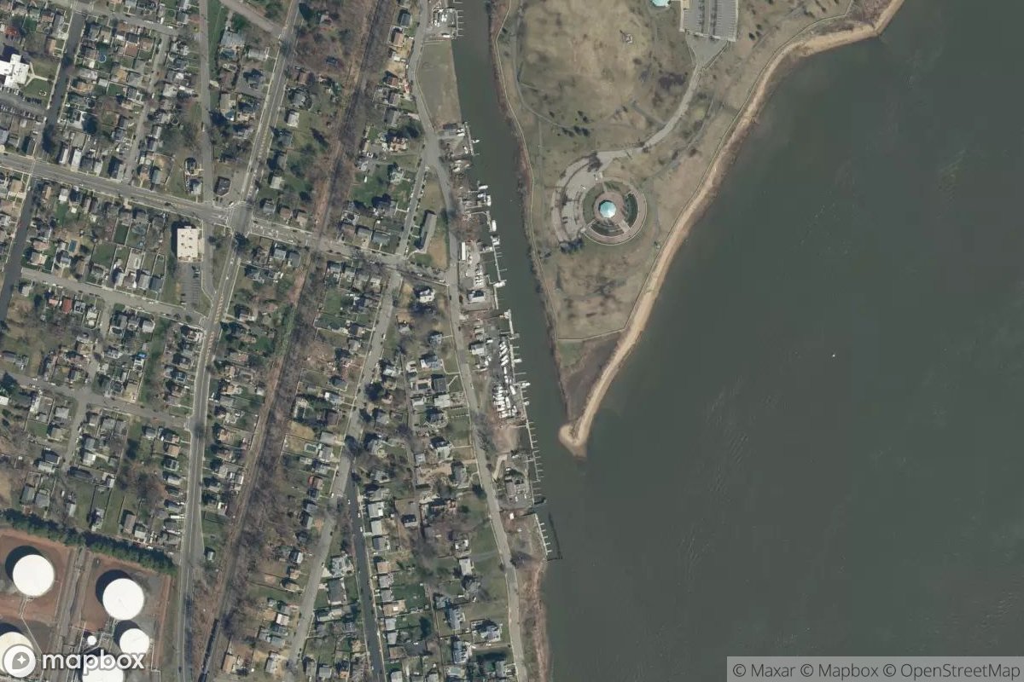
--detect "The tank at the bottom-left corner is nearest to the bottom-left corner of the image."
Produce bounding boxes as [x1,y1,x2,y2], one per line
[0,633,34,678]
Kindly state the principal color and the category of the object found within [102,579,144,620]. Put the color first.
white storage tank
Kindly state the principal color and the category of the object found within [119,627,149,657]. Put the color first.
white storage tank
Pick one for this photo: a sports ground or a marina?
marina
